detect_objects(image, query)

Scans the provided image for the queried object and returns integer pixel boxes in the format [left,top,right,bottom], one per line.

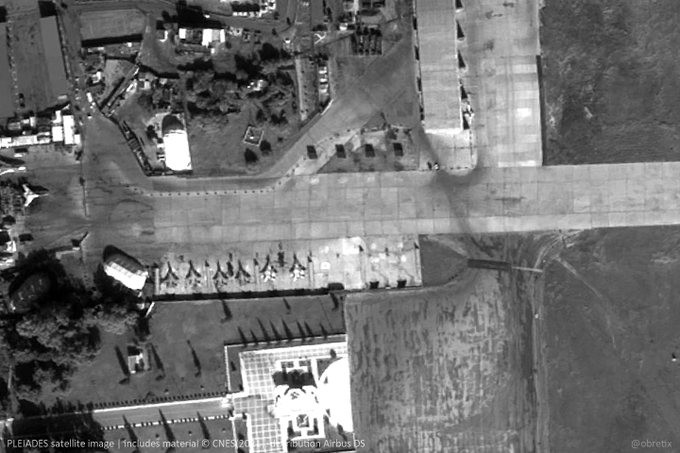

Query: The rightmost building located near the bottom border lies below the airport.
[268,383,325,441]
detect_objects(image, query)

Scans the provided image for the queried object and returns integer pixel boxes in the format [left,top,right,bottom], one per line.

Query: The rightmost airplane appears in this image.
[289,262,303,286]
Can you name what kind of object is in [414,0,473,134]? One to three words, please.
hangar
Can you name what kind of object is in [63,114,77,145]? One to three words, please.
building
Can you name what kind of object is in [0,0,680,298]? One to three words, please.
airport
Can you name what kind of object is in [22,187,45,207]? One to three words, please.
airplane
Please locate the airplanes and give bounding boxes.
[187,268,201,292]
[22,187,45,207]
[211,268,226,293]
[289,262,303,286]
[234,268,249,292]
[164,269,179,293]
[261,264,276,287]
